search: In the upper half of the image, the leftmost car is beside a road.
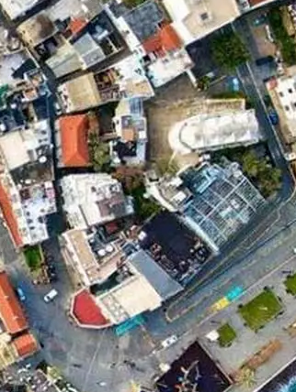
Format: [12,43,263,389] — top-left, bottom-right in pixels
[229,72,243,91]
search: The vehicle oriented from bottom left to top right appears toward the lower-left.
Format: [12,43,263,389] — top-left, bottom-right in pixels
[42,287,59,303]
